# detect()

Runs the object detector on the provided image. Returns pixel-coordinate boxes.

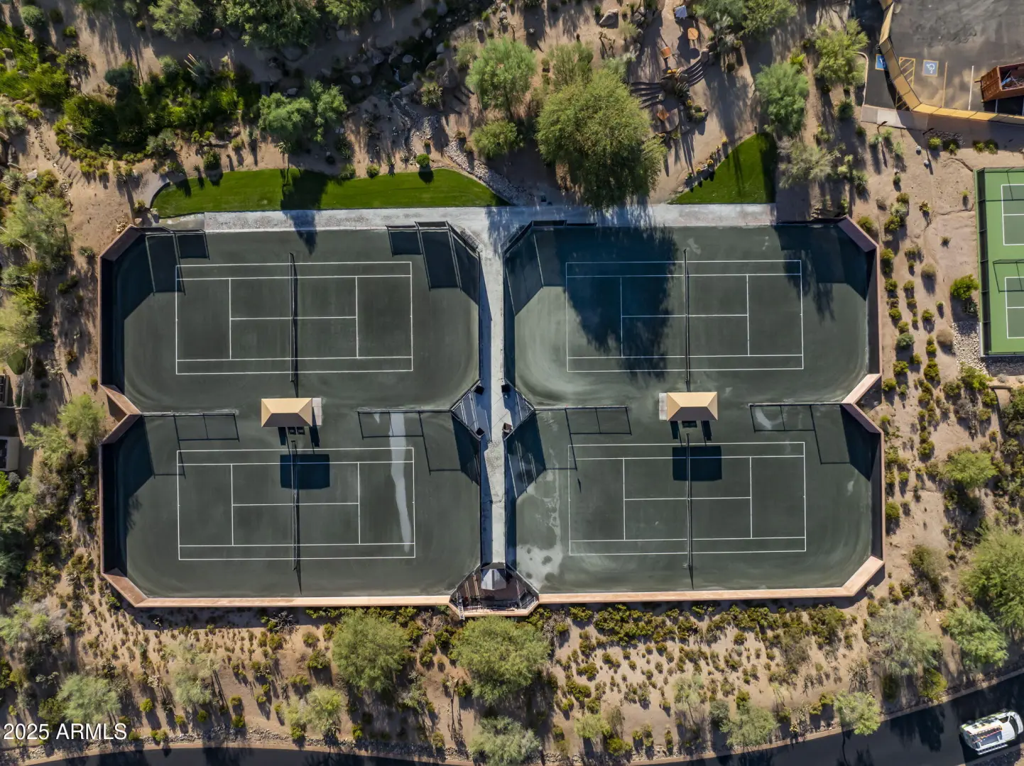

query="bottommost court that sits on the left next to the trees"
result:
[115,411,481,598]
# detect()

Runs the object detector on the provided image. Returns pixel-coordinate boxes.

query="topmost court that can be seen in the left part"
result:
[114,228,480,412]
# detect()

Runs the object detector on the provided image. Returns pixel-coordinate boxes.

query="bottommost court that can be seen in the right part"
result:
[505,403,871,594]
